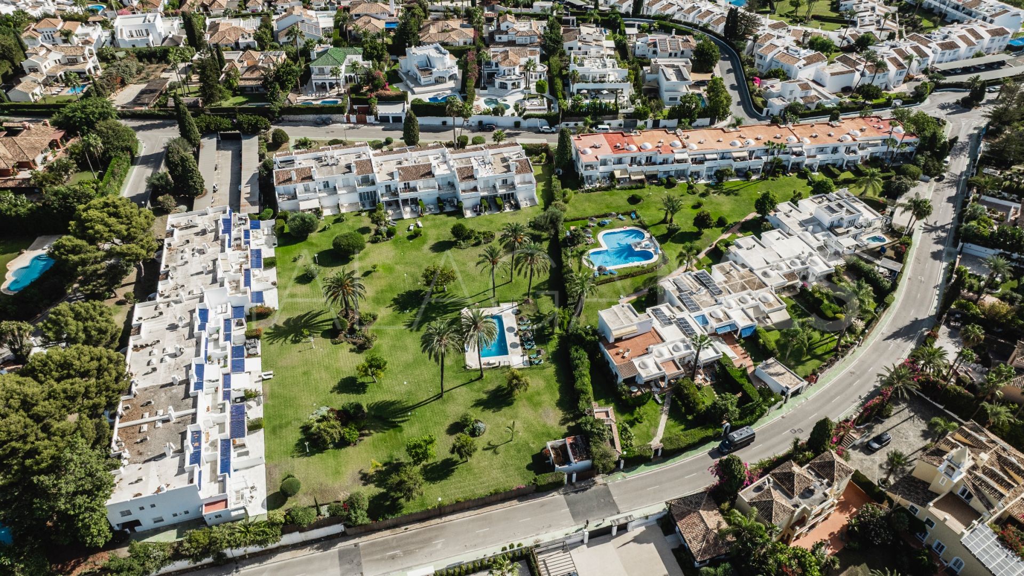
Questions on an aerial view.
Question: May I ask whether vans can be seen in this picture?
Yes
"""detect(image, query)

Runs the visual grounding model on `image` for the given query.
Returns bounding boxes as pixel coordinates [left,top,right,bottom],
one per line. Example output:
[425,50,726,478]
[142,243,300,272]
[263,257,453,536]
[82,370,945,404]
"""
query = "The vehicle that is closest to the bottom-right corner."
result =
[867,432,896,452]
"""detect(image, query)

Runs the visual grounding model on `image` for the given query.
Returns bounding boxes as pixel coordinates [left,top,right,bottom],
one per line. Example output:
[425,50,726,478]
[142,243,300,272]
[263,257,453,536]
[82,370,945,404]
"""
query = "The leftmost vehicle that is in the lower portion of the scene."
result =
[719,427,759,455]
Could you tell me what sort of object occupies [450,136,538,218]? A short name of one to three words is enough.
house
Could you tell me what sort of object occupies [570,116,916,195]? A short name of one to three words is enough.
building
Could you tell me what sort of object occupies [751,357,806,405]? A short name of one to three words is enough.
building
